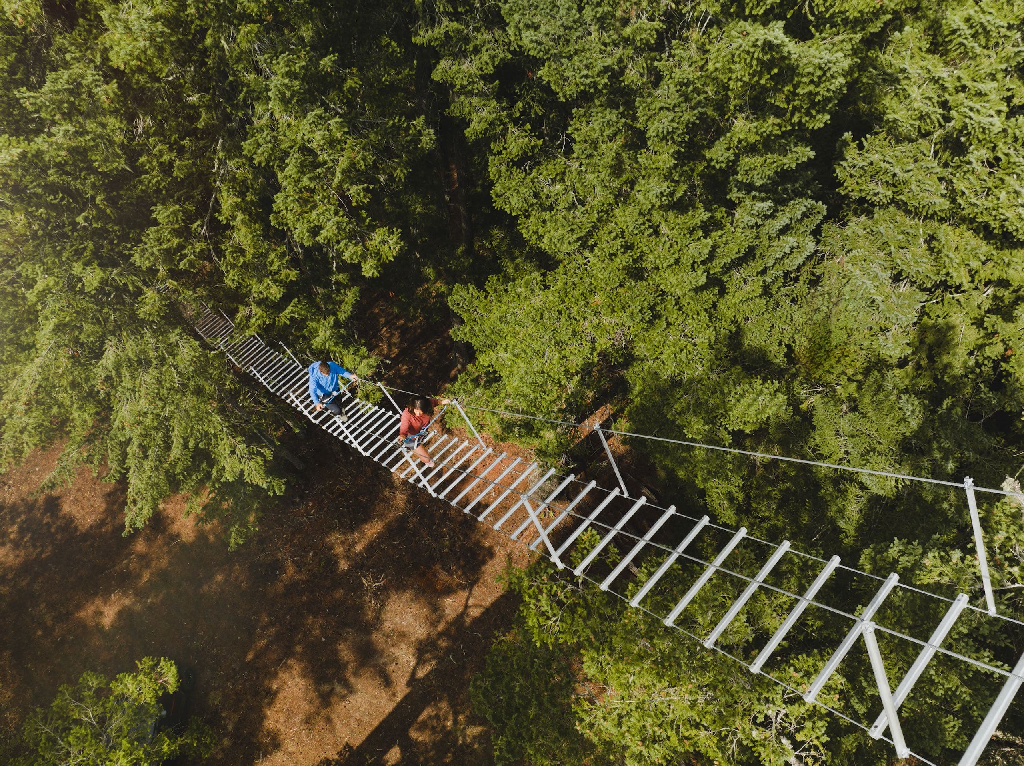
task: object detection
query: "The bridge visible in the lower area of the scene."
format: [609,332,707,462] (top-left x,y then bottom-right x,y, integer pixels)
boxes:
[175,292,1024,766]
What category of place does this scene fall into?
forest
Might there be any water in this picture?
No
